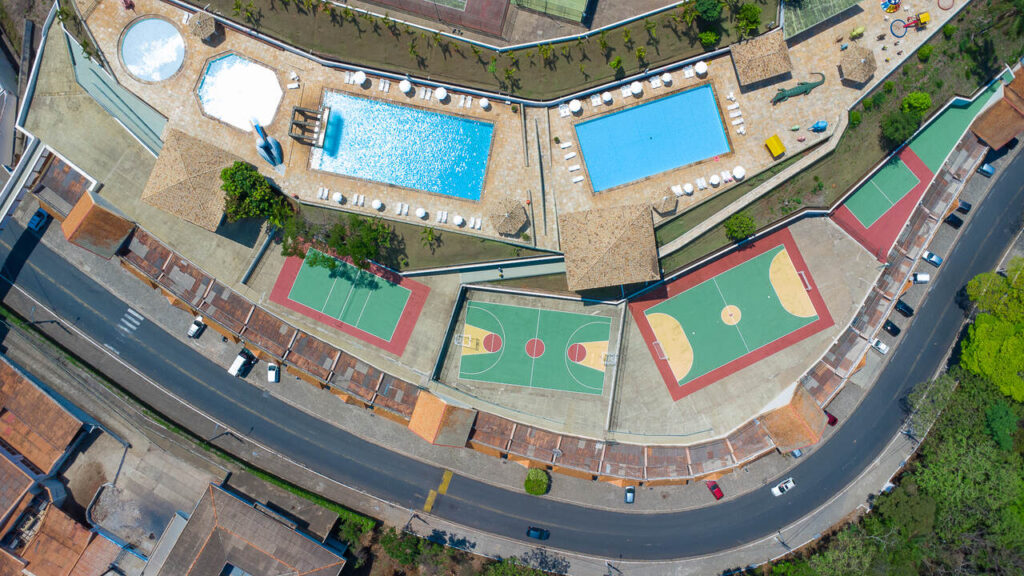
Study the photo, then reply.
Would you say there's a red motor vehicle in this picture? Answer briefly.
Yes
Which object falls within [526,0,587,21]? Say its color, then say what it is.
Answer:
green tennis court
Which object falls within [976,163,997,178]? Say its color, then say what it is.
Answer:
blue car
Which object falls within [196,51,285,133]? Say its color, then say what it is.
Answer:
white swimming pool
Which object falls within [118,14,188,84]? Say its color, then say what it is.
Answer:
white swimming pool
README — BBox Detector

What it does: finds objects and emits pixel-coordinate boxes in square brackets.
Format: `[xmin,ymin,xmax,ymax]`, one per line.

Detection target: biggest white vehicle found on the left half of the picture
[224,350,250,378]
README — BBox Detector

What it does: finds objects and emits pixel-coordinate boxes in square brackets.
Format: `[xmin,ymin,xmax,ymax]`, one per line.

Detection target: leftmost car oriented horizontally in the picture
[527,526,550,540]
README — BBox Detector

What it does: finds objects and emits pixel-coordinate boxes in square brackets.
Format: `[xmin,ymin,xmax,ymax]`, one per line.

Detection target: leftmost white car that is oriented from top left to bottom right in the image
[869,337,891,355]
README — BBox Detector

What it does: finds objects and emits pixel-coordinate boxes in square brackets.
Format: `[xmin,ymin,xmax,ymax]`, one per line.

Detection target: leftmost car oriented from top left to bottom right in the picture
[704,480,723,500]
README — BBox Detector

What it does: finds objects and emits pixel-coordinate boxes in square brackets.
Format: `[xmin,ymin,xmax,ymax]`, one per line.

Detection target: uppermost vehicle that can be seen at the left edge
[29,209,48,231]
